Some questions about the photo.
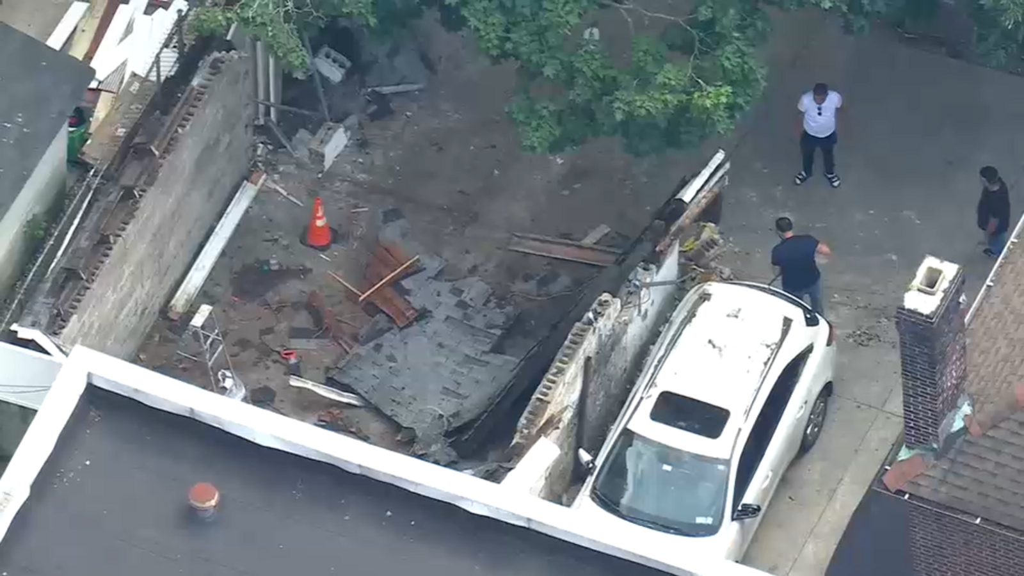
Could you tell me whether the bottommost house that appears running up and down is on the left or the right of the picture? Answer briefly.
right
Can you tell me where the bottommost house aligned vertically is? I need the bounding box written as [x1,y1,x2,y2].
[862,198,1024,576]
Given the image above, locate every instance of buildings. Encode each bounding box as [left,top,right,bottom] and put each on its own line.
[862,198,1024,576]
[0,347,754,576]
[0,42,98,326]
